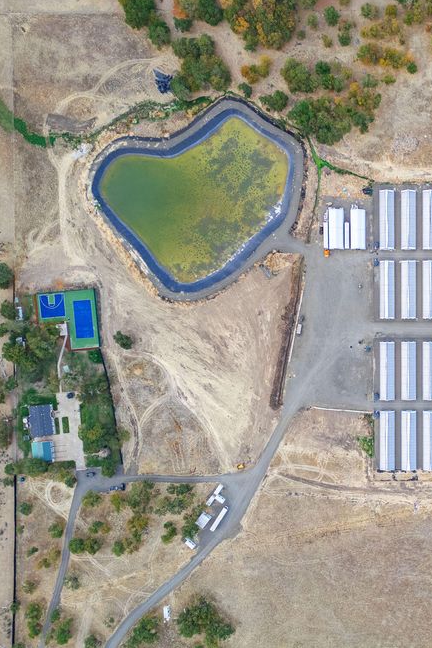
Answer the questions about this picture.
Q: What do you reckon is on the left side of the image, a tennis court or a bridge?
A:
tennis court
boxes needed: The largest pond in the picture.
[90,96,306,293]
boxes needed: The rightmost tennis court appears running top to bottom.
[66,290,96,350]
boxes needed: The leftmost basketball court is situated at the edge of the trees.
[37,291,69,324]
